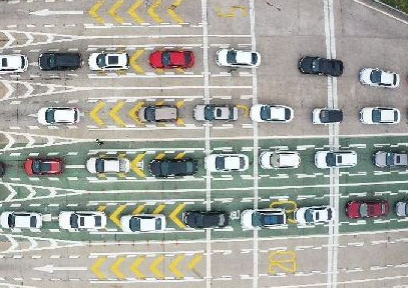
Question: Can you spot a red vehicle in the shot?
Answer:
Yes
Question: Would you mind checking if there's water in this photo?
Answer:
No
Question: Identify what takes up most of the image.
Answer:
paved ground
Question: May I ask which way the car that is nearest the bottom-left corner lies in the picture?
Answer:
from left to right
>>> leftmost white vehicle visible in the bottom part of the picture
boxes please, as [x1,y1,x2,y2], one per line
[1,209,43,231]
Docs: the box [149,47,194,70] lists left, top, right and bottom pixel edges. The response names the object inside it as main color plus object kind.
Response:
red car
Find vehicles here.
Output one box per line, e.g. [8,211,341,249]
[215,46,260,68]
[310,105,343,126]
[149,47,194,70]
[297,54,344,76]
[120,212,166,234]
[39,104,79,125]
[239,207,285,231]
[293,204,332,227]
[0,54,29,73]
[86,154,131,175]
[193,102,238,123]
[342,198,389,221]
[149,157,198,178]
[182,208,229,231]
[1,209,43,231]
[258,148,300,171]
[204,152,249,174]
[357,66,399,88]
[25,156,64,177]
[357,104,400,125]
[248,102,293,124]
[89,50,130,72]
[59,209,107,232]
[137,103,178,123]
[312,148,357,170]
[39,50,81,71]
